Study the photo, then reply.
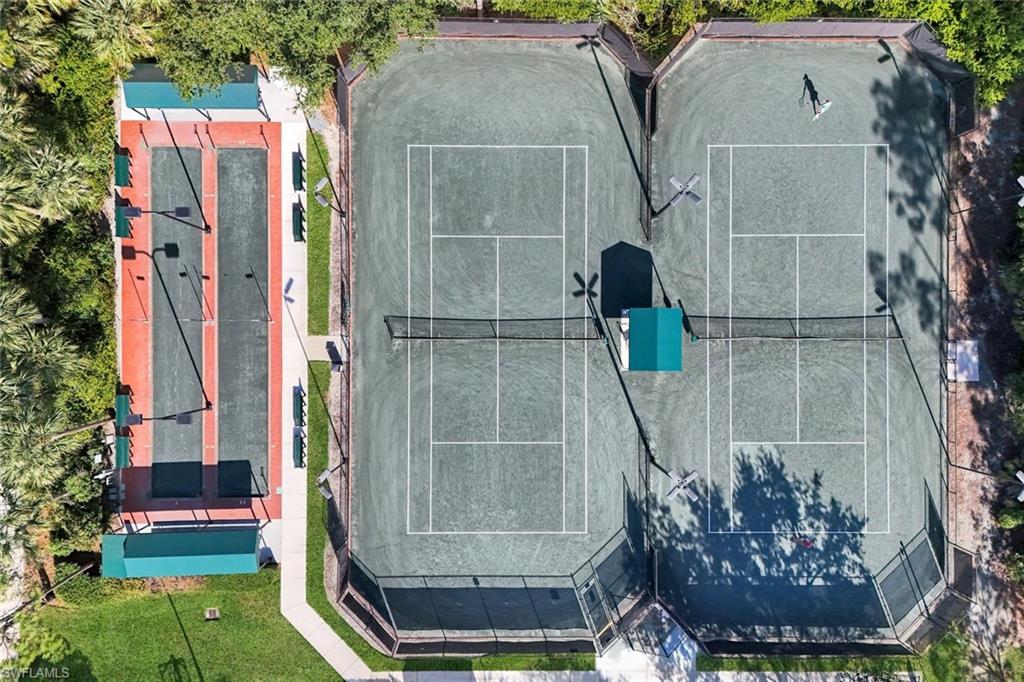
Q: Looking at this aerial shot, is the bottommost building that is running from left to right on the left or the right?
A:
left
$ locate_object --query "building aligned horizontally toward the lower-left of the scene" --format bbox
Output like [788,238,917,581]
[101,518,272,578]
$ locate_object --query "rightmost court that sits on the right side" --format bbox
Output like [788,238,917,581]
[649,39,948,636]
